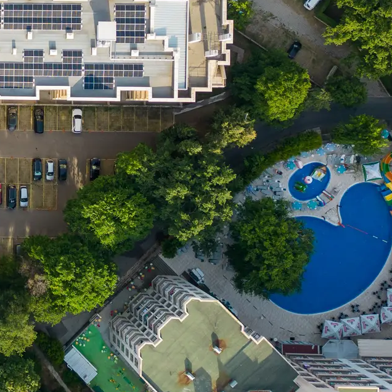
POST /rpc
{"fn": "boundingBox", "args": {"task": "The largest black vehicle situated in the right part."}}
[286,40,301,61]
